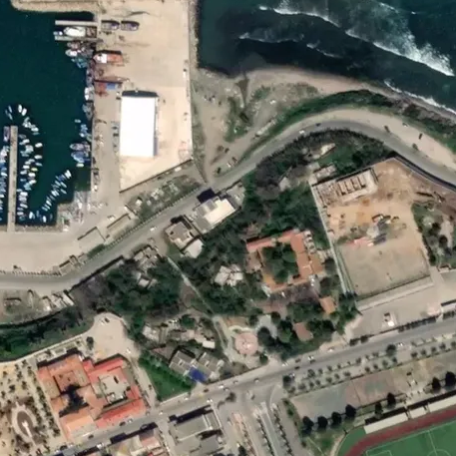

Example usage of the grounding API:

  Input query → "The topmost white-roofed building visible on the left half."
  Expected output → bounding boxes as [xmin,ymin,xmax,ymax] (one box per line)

[120,97,158,156]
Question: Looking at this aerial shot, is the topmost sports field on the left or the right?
right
